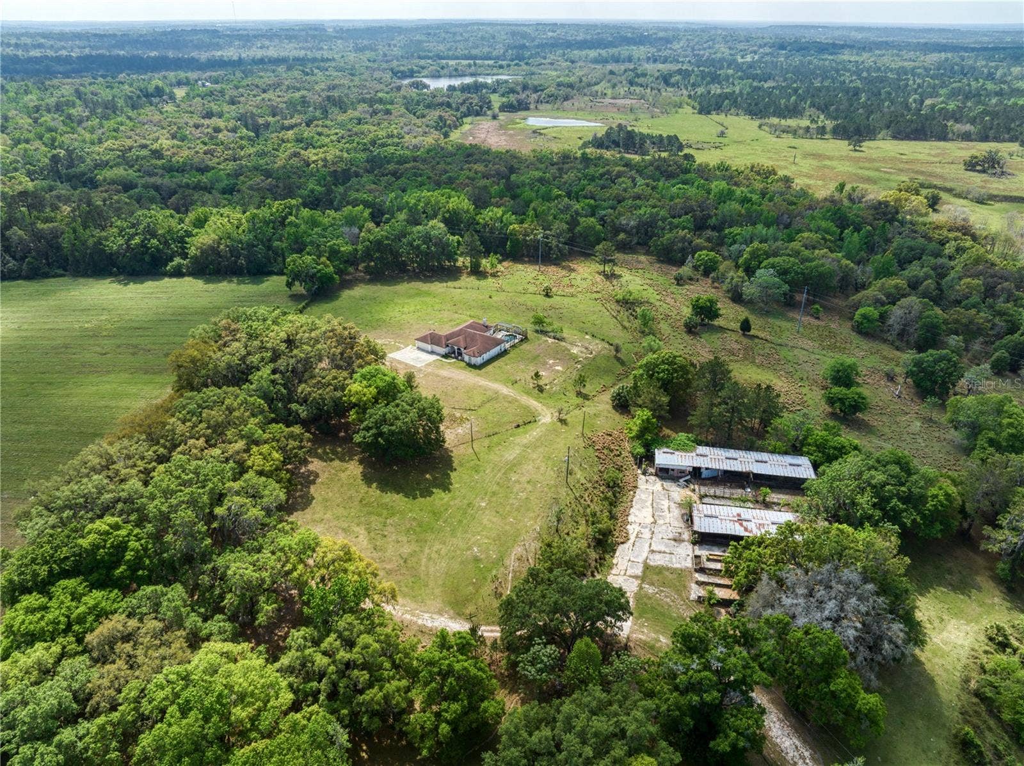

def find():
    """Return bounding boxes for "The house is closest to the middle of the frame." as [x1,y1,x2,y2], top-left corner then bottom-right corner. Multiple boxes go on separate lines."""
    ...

[412,319,508,366]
